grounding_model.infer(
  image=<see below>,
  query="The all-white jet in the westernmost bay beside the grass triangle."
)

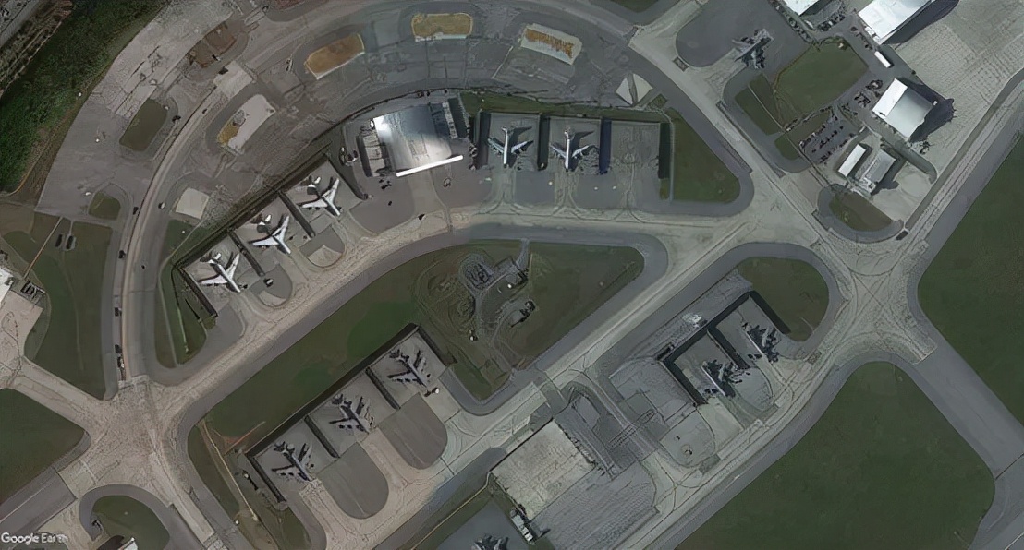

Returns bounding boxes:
[201,253,239,292]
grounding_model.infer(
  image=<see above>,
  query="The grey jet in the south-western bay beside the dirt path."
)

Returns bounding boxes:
[273,444,310,482]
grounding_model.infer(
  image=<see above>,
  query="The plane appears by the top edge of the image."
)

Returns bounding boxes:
[735,24,772,60]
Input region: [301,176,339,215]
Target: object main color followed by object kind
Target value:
white airplane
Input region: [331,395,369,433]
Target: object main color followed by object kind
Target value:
gray airplane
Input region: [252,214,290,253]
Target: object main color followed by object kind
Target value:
white airplane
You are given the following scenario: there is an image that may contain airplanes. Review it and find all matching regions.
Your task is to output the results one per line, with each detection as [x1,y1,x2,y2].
[692,359,727,396]
[733,321,767,359]
[389,349,427,387]
[201,253,239,292]
[735,24,772,60]
[548,131,587,170]
[273,444,310,482]
[487,128,525,167]
[252,214,290,253]
[301,176,339,215]
[331,395,369,433]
